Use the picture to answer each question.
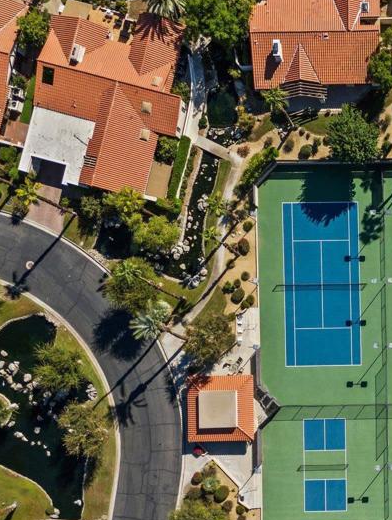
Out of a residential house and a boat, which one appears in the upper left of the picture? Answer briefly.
residential house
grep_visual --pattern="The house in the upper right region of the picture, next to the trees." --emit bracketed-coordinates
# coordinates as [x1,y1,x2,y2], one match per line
[250,0,380,92]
